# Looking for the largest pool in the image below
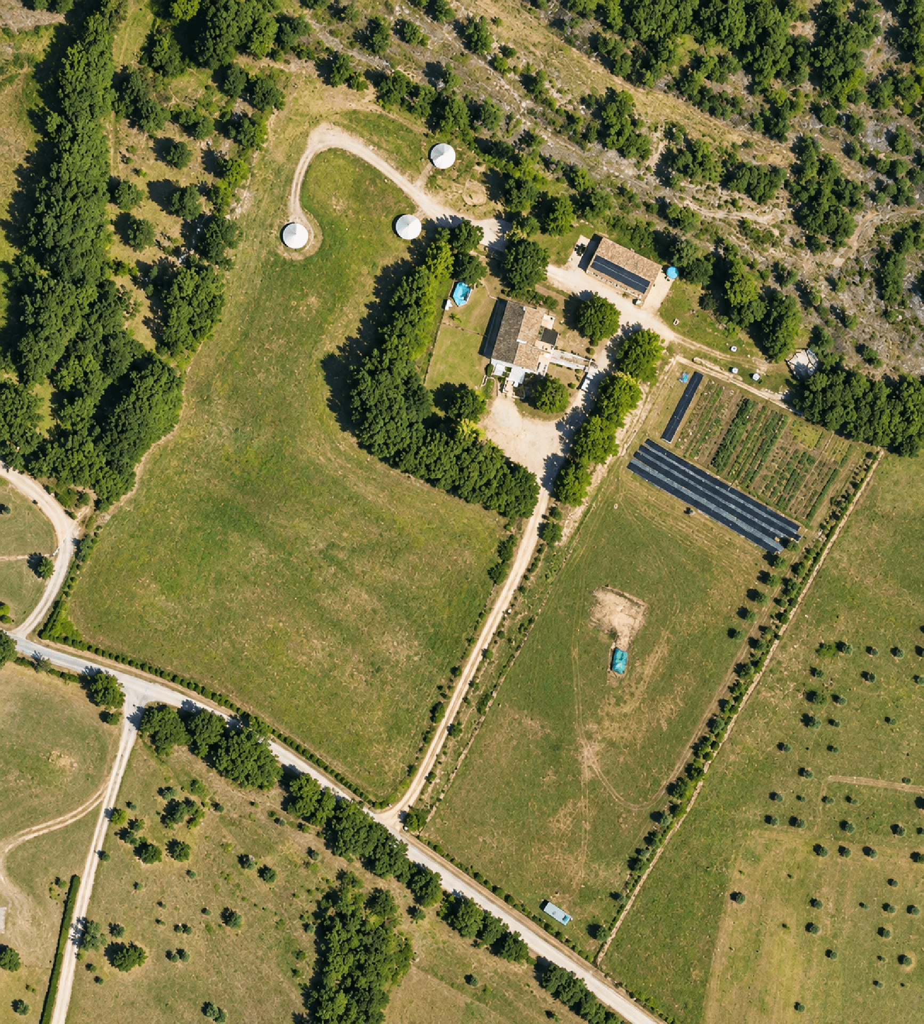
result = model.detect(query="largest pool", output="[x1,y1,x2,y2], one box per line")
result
[453,282,471,306]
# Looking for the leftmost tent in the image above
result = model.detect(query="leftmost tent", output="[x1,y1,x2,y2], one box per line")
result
[282,223,308,249]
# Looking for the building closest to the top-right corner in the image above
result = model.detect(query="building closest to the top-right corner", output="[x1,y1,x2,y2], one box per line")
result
[587,238,661,298]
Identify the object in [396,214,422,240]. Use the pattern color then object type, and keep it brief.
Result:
white tent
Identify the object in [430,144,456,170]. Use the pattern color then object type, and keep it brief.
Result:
white tent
